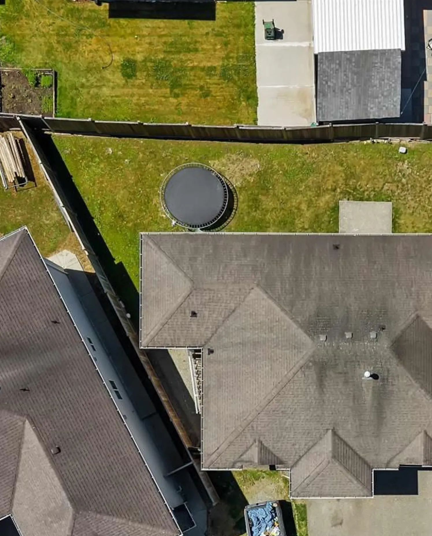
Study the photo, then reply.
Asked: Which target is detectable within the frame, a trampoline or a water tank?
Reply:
trampoline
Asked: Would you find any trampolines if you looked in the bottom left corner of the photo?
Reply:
No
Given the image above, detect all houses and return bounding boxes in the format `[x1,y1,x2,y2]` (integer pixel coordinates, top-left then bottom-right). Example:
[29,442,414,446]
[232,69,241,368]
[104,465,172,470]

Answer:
[138,231,432,501]
[0,224,194,536]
